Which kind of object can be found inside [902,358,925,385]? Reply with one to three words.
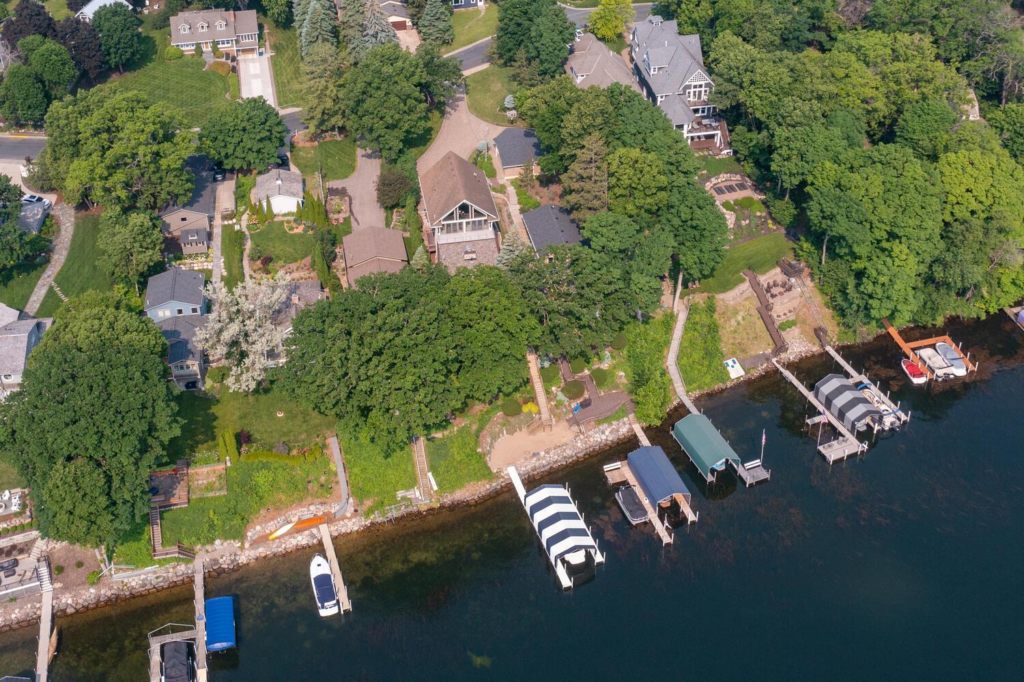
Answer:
boat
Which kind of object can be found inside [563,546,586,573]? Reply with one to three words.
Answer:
boat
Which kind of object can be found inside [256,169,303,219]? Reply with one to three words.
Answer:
building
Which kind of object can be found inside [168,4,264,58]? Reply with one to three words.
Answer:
house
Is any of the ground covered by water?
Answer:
Yes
